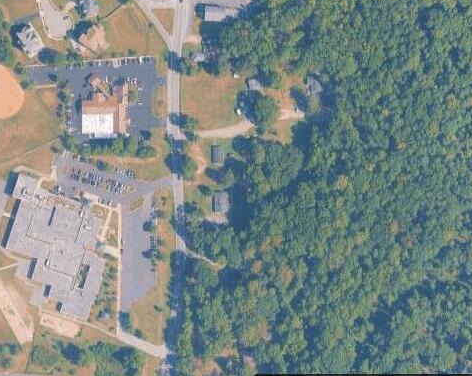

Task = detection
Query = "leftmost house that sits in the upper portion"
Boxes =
[17,26,42,55]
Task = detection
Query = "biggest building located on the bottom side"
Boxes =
[6,173,106,321]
